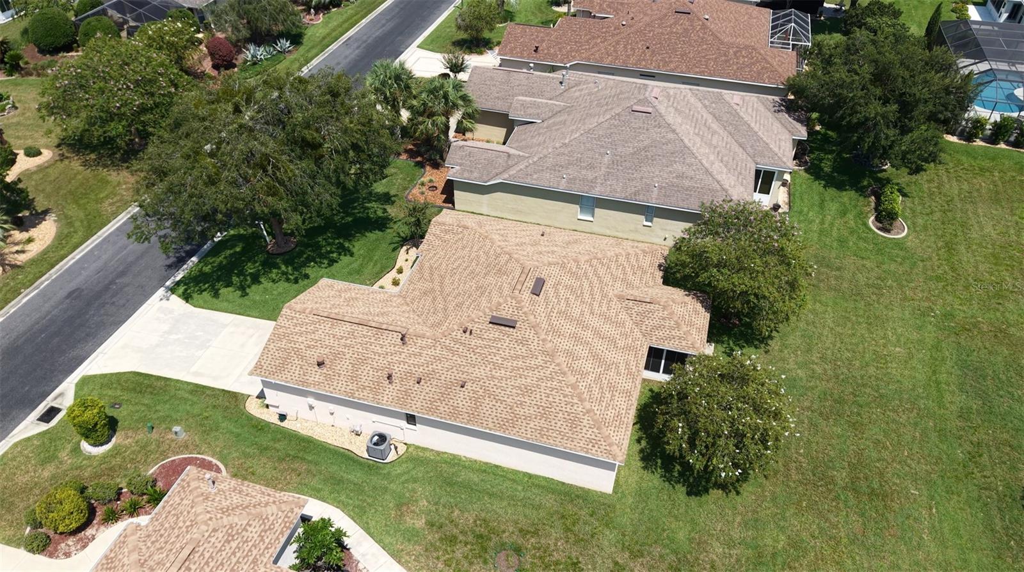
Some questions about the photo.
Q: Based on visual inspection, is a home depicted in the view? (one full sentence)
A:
Yes, I can see a home in this picture.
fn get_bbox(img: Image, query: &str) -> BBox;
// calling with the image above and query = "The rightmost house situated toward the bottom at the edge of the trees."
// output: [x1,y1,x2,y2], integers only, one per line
[240,207,715,494]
